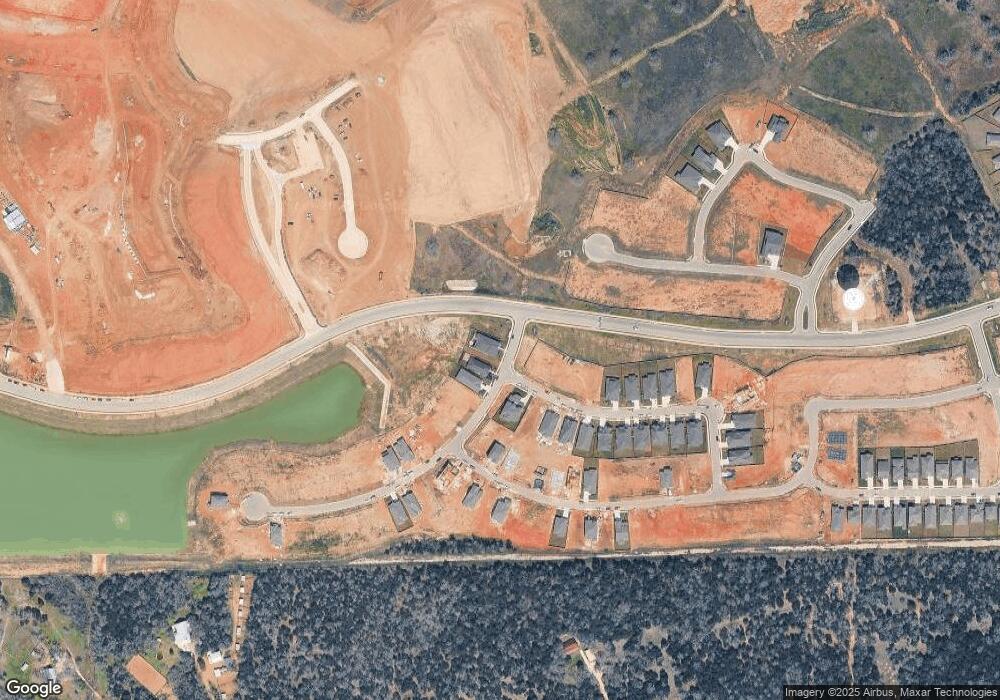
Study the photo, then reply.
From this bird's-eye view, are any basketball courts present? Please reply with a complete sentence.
No, the photo shows no basketball court.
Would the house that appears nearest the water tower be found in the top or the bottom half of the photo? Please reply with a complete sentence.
It is in the top half that the house that appears nearest the water tower appears.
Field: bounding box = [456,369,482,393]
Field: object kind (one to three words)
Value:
house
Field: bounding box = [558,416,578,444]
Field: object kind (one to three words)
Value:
house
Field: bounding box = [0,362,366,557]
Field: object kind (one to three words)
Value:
pond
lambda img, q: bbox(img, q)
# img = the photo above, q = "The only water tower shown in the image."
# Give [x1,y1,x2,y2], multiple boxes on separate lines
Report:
[844,287,866,309]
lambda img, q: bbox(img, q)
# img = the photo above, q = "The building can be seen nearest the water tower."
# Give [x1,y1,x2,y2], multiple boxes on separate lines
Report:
[762,228,782,257]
